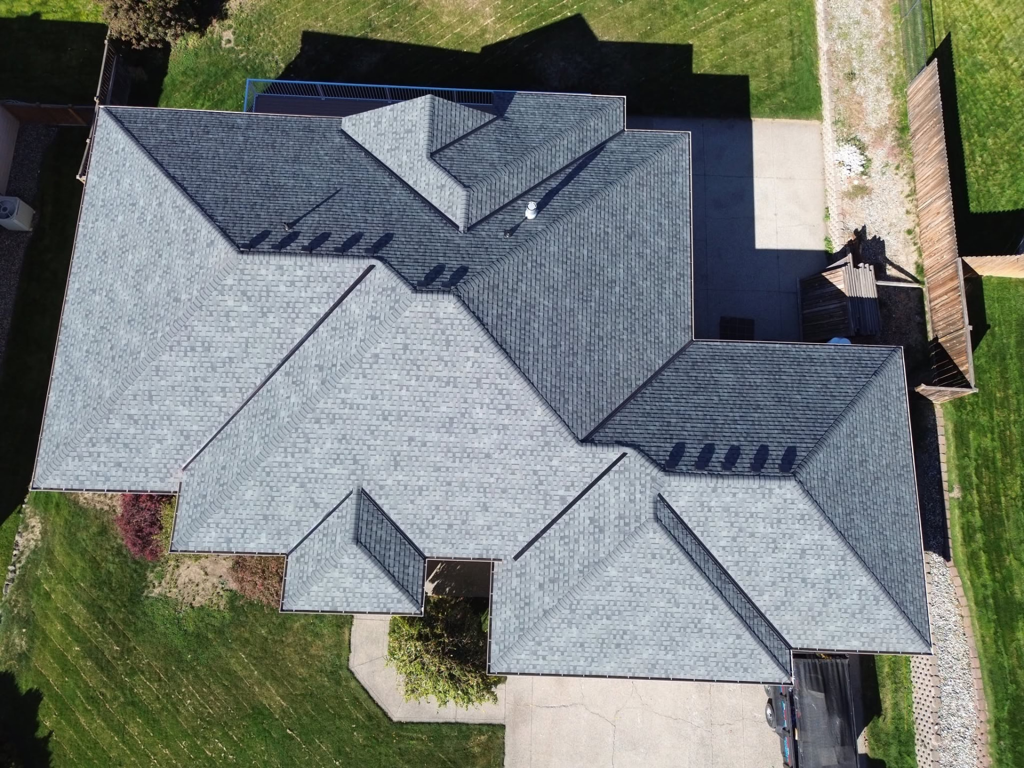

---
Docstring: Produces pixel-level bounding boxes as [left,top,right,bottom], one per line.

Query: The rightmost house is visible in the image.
[32,91,932,683]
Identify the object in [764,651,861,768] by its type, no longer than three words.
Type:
trailer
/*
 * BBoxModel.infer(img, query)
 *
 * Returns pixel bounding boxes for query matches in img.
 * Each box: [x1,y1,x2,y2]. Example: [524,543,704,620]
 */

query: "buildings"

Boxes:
[0,106,19,199]
[32,91,932,683]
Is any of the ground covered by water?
No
